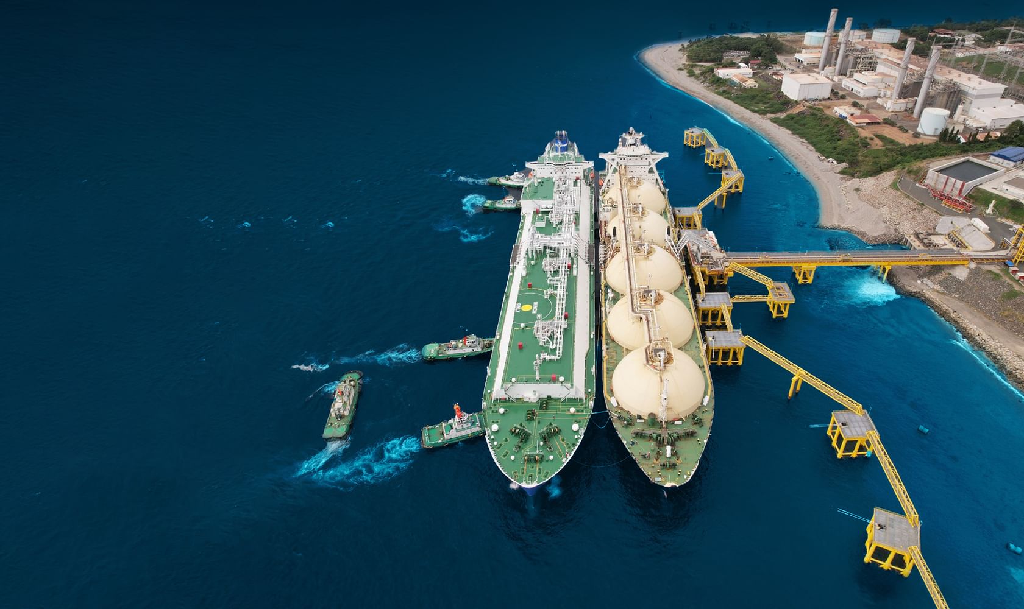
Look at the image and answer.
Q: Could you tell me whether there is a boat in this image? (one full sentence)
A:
Yes, I can see a boat in this picture.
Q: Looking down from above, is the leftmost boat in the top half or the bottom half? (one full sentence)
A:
The leftmost boat is in the bottom half of the image.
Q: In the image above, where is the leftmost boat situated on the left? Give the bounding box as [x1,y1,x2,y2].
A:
[320,368,366,441]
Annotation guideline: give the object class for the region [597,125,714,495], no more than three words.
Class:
ship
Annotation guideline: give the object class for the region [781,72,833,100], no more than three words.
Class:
building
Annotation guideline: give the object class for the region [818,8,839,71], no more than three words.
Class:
chimney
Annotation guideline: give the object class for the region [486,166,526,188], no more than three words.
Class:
boat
